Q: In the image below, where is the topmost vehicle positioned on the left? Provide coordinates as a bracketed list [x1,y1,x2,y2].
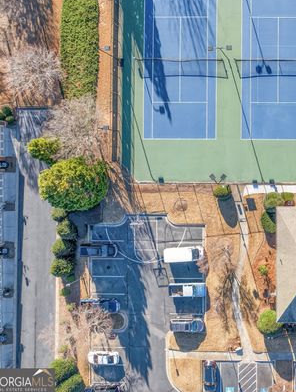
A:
[81,243,119,258]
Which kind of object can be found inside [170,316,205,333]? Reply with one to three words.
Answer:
car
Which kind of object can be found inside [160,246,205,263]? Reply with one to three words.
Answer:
vehicle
